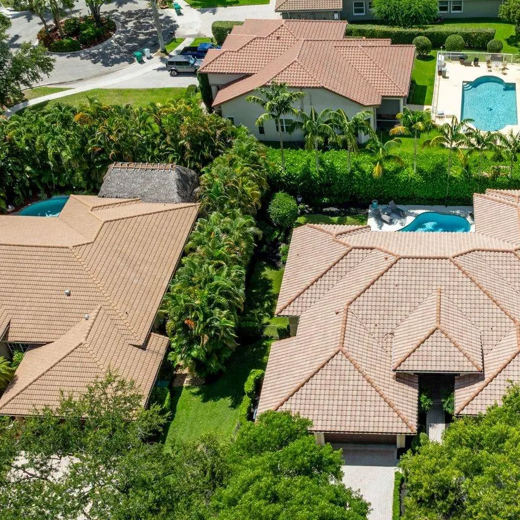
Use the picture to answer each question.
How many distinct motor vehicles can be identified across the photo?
2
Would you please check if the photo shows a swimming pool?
Yes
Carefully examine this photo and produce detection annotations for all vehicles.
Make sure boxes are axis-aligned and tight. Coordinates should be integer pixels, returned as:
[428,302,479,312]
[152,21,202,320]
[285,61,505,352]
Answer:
[173,35,219,57]
[160,52,203,78]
